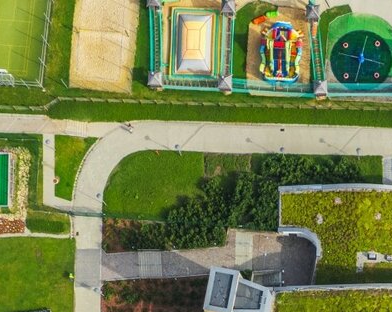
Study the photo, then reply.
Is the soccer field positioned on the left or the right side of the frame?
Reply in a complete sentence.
The soccer field is on the left side of the image.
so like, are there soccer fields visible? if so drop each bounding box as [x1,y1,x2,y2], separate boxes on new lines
[0,0,51,87]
